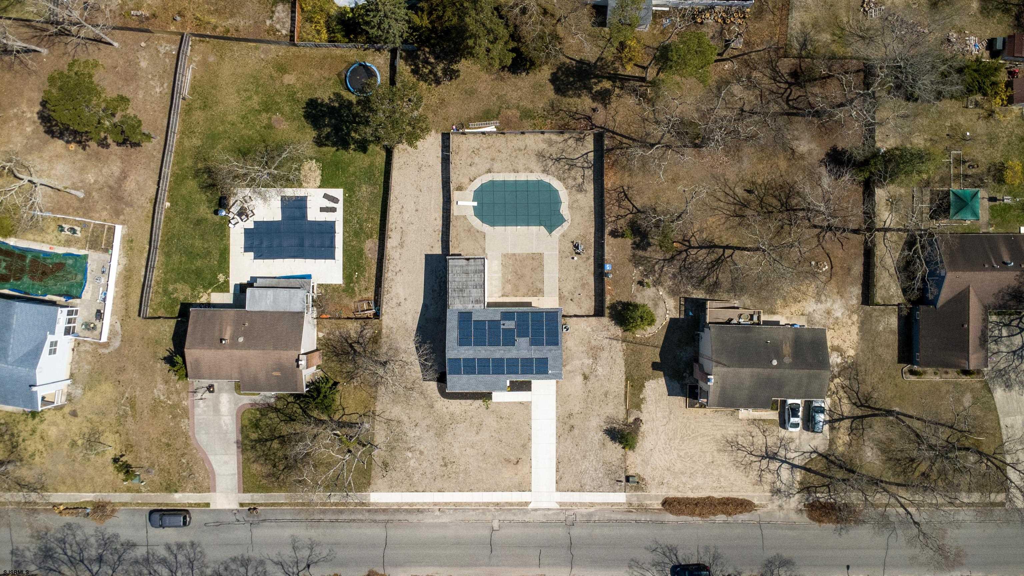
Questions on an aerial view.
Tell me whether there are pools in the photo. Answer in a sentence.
Yes, this view includes a pool.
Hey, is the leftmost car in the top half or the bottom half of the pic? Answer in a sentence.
You can find the leftmost car in the bottom half.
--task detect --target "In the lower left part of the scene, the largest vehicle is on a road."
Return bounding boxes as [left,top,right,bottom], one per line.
[147,511,189,532]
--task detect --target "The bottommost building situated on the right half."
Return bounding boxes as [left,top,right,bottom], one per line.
[693,326,830,409]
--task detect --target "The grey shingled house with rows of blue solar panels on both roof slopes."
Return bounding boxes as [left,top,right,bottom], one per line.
[445,256,563,393]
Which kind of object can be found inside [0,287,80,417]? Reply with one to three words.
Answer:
house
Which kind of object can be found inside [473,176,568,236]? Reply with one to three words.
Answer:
swimming pool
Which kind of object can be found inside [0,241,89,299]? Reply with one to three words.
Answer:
swimming pool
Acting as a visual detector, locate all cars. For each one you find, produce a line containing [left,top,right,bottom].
[147,511,189,532]
[671,564,711,576]
[785,400,805,432]
[809,398,829,432]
